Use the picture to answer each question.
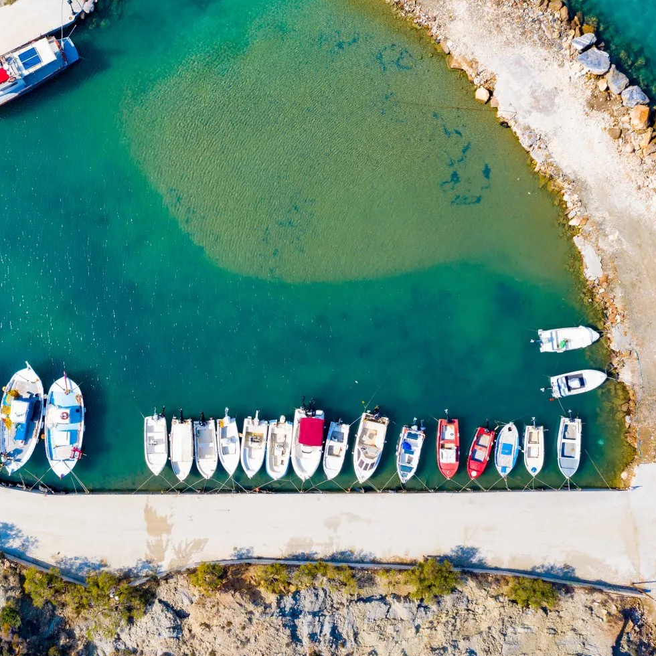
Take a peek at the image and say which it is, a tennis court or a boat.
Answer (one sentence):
Visible in the photo is a boat.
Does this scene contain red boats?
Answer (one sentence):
Yes, a red boat is visible in the scene.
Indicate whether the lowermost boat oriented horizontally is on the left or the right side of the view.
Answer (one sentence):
The lowermost boat oriented horizontally is on the right side of the image.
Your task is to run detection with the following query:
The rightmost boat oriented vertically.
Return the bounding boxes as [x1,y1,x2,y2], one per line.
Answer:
[555,409,582,491]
